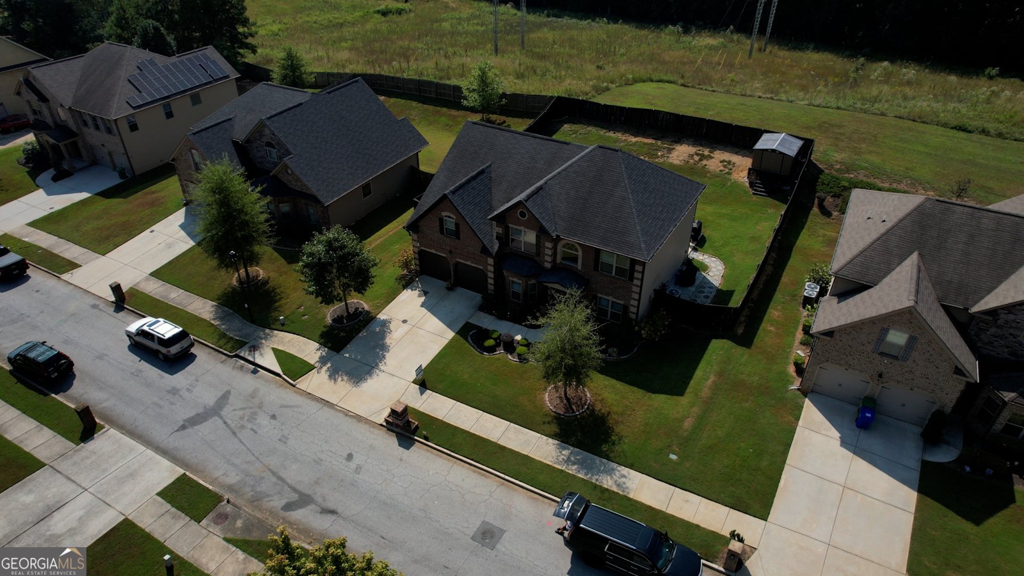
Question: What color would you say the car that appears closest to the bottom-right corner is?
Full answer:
The car that appears closest to the bottom-right corner looks black in the image.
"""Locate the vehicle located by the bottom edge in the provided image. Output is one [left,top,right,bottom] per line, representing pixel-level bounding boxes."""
[556,490,703,576]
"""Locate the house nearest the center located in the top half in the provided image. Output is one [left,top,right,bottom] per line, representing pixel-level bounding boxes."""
[402,120,710,329]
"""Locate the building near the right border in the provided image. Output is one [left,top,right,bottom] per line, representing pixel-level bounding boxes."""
[790,181,1024,448]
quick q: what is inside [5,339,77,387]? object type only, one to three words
car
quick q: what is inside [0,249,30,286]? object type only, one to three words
truck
